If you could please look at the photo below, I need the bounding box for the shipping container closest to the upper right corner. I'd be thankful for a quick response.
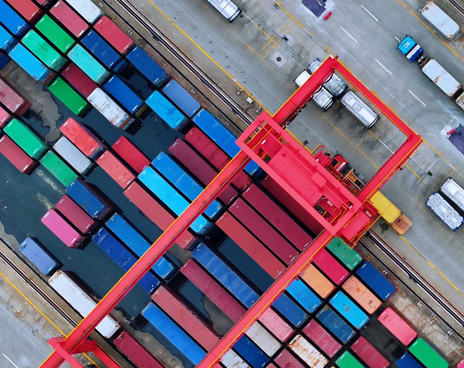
[420,1,460,41]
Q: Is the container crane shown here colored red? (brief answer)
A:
Yes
